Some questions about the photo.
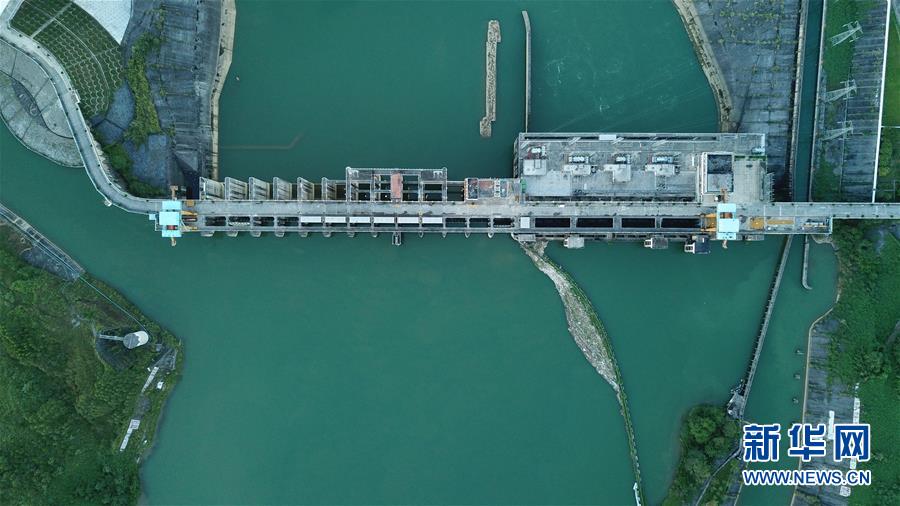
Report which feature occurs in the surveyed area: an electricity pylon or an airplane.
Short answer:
electricity pylon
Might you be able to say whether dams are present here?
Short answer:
Yes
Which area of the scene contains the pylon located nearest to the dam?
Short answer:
top right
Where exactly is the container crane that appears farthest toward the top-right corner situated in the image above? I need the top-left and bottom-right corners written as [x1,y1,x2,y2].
[700,187,741,249]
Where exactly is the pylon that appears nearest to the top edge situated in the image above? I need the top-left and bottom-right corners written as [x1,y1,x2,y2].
[828,19,863,47]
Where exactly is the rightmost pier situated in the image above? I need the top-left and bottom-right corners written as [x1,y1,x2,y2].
[800,235,812,290]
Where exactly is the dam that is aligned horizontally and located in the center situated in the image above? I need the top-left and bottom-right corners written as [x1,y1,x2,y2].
[150,167,836,246]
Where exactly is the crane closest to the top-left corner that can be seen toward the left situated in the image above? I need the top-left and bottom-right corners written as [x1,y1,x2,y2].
[150,187,198,249]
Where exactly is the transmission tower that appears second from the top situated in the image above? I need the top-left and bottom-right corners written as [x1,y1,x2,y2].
[822,76,856,99]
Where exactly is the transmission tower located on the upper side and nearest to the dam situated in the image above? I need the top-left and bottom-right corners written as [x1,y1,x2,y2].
[817,123,850,144]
